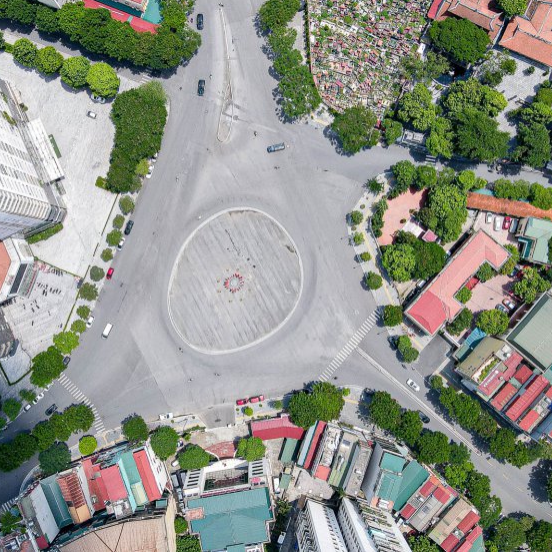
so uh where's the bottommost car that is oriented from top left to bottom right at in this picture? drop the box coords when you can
[416,409,431,424]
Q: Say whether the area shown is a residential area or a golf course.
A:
residential area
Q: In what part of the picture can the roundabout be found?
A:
center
